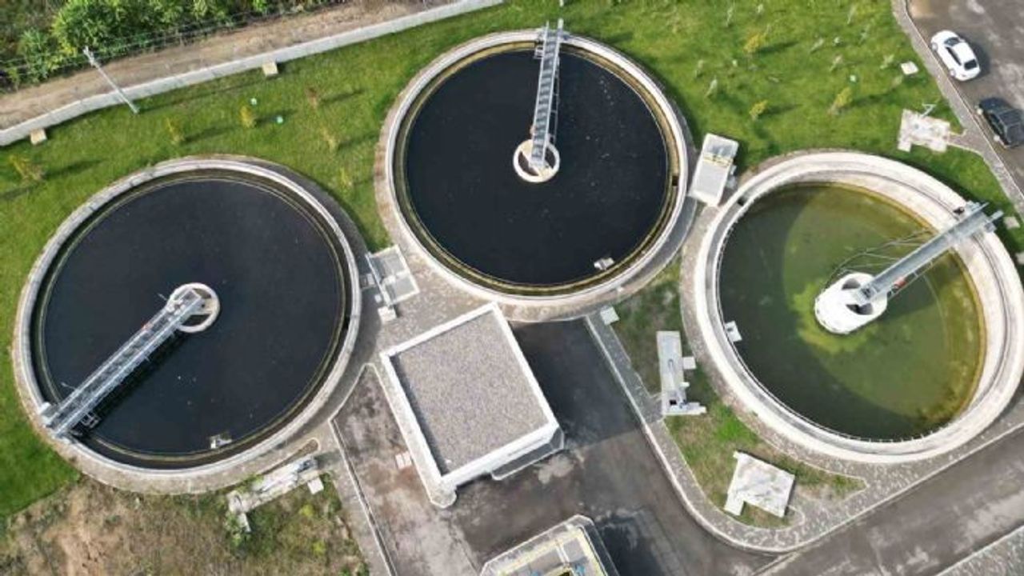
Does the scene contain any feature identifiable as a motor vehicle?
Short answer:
Yes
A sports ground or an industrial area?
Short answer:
industrial area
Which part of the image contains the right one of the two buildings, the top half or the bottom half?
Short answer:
bottom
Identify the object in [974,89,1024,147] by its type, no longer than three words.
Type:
car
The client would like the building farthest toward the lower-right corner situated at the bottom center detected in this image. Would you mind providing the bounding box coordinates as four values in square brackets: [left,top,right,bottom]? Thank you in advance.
[495,524,607,576]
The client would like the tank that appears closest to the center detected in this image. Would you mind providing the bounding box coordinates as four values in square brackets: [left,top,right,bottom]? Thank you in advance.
[382,32,688,307]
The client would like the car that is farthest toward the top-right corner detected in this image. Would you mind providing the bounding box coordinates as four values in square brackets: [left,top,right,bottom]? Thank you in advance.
[930,29,979,80]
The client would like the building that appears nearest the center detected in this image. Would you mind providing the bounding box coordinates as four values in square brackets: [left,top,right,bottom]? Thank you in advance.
[384,303,557,490]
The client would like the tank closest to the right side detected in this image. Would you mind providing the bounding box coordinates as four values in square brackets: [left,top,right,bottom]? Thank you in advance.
[690,151,1024,464]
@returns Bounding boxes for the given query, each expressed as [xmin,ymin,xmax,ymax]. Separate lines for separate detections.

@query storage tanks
[690,151,1024,464]
[382,32,688,307]
[21,160,363,479]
